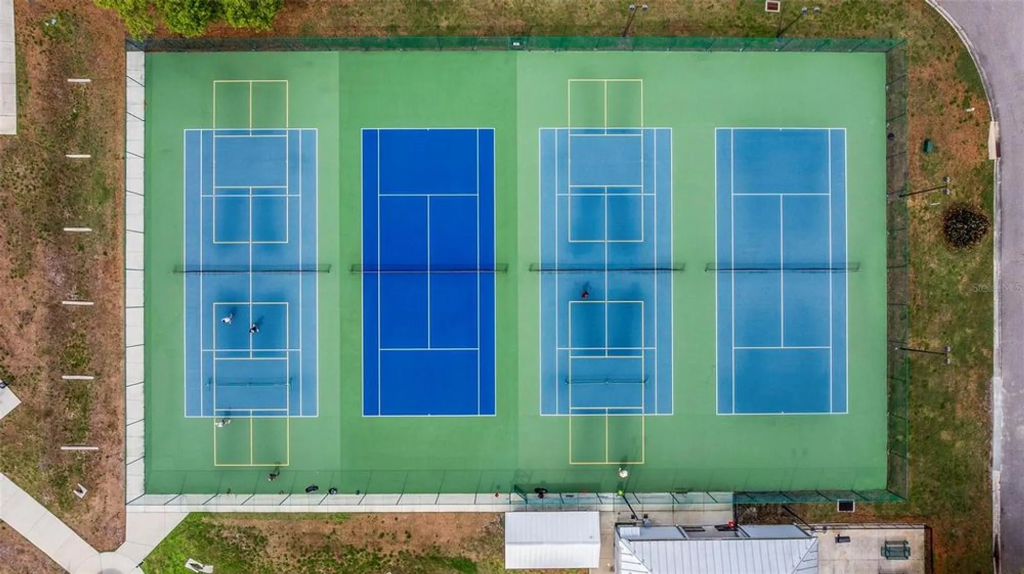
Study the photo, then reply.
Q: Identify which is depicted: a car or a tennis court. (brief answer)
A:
tennis court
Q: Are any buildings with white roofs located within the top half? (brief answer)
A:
No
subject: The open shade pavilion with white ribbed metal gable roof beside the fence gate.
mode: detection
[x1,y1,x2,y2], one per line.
[505,506,600,569]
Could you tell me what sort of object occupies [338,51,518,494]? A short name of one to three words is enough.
tennis court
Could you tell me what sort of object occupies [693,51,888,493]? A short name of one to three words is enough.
tennis court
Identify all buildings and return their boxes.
[615,523,818,574]
[505,506,600,569]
